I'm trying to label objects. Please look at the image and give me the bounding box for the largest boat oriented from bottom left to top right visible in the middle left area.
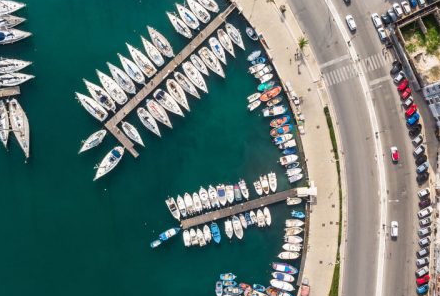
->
[92,144,126,181]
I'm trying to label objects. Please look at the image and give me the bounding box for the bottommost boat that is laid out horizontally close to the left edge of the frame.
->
[0,70,35,87]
